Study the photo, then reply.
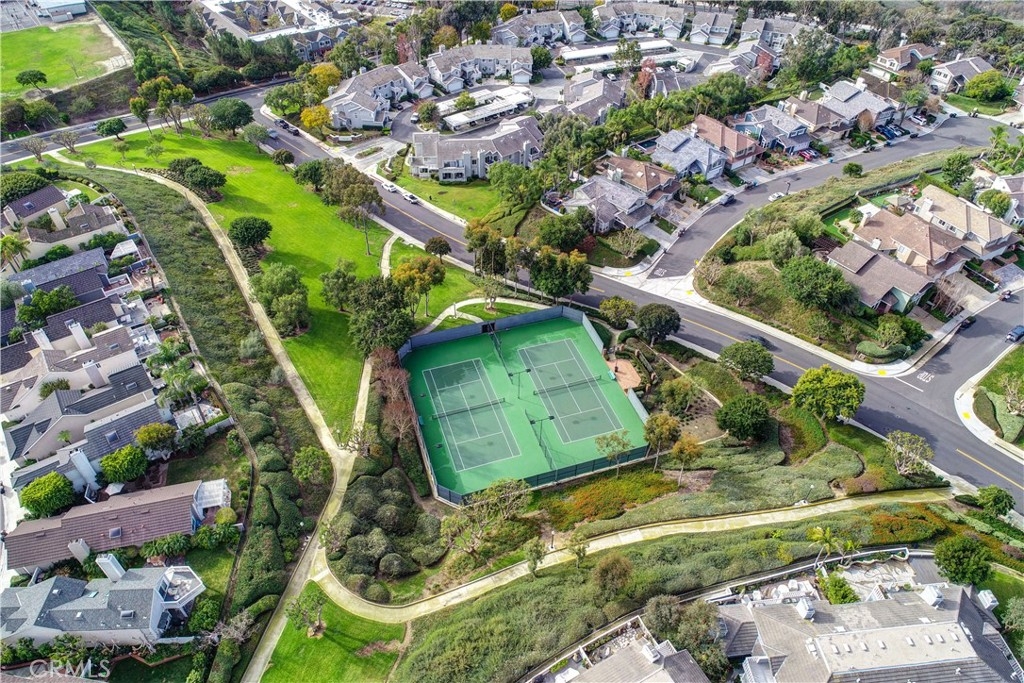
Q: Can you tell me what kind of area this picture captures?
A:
residential area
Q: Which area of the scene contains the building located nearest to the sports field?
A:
top left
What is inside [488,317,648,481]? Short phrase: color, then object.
green tennis court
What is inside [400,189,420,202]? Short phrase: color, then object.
white vehicle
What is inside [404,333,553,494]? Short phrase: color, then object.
green tennis court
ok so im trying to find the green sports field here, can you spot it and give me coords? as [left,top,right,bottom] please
[0,21,131,104]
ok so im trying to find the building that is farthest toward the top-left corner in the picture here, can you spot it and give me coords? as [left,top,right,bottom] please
[39,0,90,28]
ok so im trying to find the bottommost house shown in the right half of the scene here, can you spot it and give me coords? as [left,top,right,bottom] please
[576,628,704,683]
